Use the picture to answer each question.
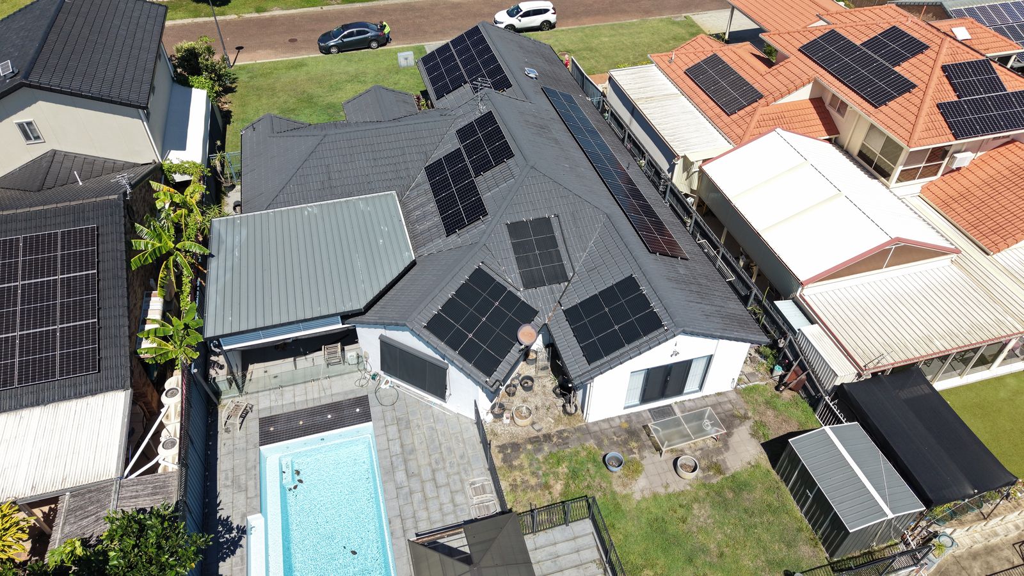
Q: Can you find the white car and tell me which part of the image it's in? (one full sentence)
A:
The white car appears toward the top of the photo.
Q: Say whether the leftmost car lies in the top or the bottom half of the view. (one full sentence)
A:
The leftmost car is in the top half of the image.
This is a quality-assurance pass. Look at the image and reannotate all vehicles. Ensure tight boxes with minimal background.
[493,0,557,32]
[317,21,385,53]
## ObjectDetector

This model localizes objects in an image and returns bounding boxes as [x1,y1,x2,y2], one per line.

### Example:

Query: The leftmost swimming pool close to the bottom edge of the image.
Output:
[244,419,398,576]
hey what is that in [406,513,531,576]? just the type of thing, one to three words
gazebo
